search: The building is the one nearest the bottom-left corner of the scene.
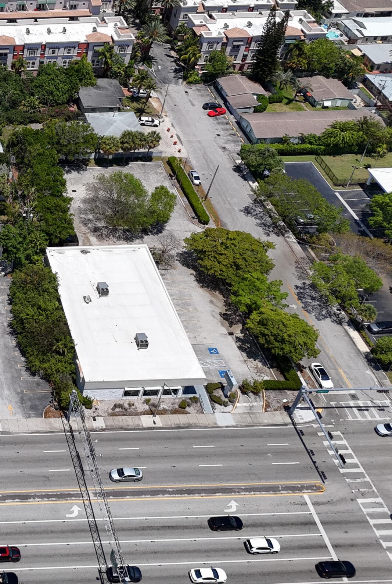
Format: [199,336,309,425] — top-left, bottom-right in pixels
[45,245,207,399]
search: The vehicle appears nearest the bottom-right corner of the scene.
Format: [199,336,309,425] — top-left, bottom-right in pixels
[314,559,358,581]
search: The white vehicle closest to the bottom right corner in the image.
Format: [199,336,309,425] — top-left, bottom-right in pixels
[244,537,282,556]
